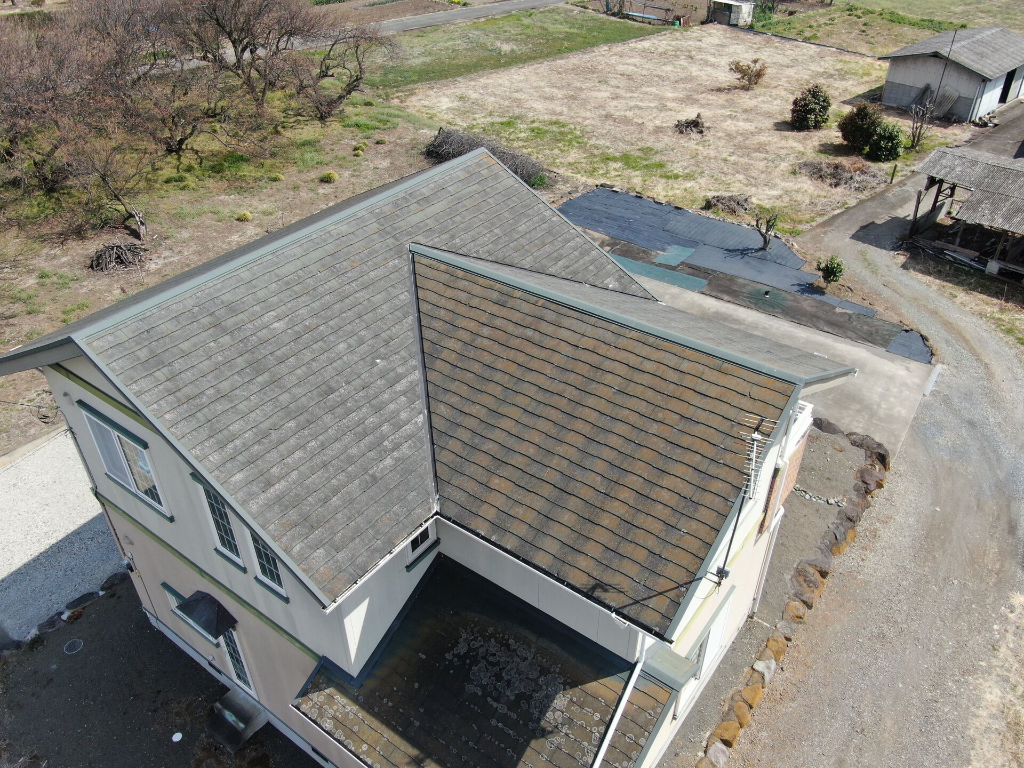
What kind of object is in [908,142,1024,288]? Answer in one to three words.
barn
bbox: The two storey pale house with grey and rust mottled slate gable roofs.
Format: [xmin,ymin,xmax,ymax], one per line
[0,148,862,768]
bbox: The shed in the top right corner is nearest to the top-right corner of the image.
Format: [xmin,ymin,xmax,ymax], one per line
[879,21,1024,124]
